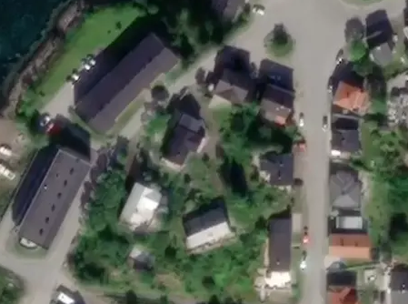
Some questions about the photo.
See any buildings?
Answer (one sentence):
Yes, the frame does contain a building.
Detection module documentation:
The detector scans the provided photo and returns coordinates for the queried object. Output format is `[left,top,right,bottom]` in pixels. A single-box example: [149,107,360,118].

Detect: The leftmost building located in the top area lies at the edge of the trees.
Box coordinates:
[71,26,179,137]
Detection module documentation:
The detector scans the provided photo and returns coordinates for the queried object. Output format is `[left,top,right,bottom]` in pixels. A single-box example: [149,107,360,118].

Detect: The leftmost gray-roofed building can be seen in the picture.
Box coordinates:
[11,143,93,250]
